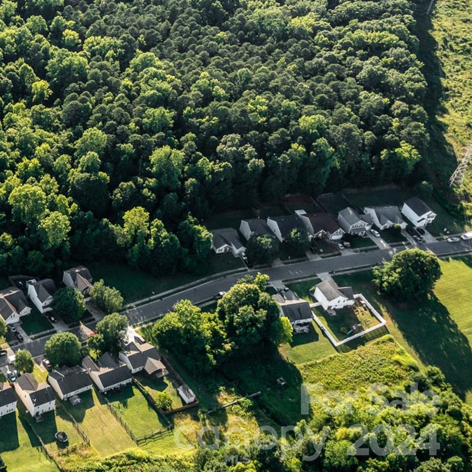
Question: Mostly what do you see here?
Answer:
trees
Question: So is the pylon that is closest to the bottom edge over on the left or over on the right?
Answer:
right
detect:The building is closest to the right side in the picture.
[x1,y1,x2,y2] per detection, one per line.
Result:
[401,196,438,226]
